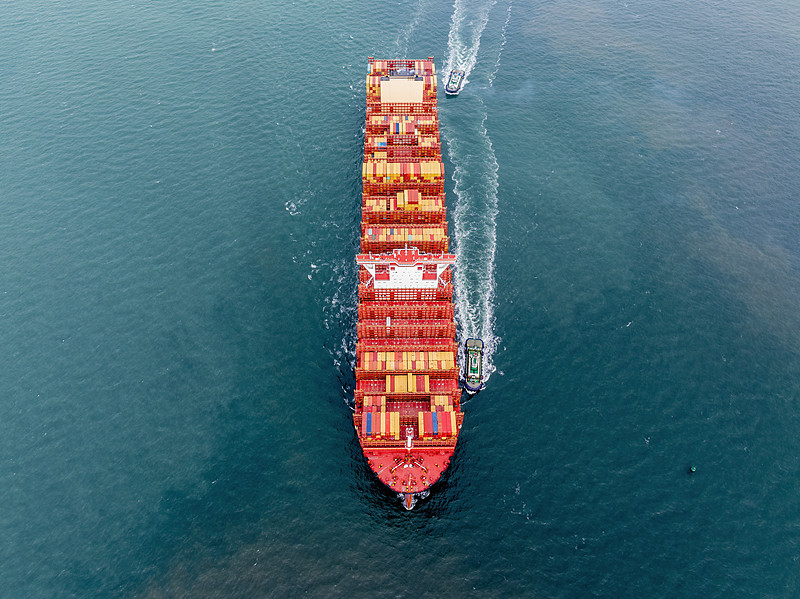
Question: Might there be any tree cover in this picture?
No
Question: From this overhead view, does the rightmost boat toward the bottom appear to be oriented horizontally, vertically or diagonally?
vertically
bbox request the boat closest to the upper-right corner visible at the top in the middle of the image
[448,70,464,94]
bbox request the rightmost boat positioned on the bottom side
[464,339,485,390]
